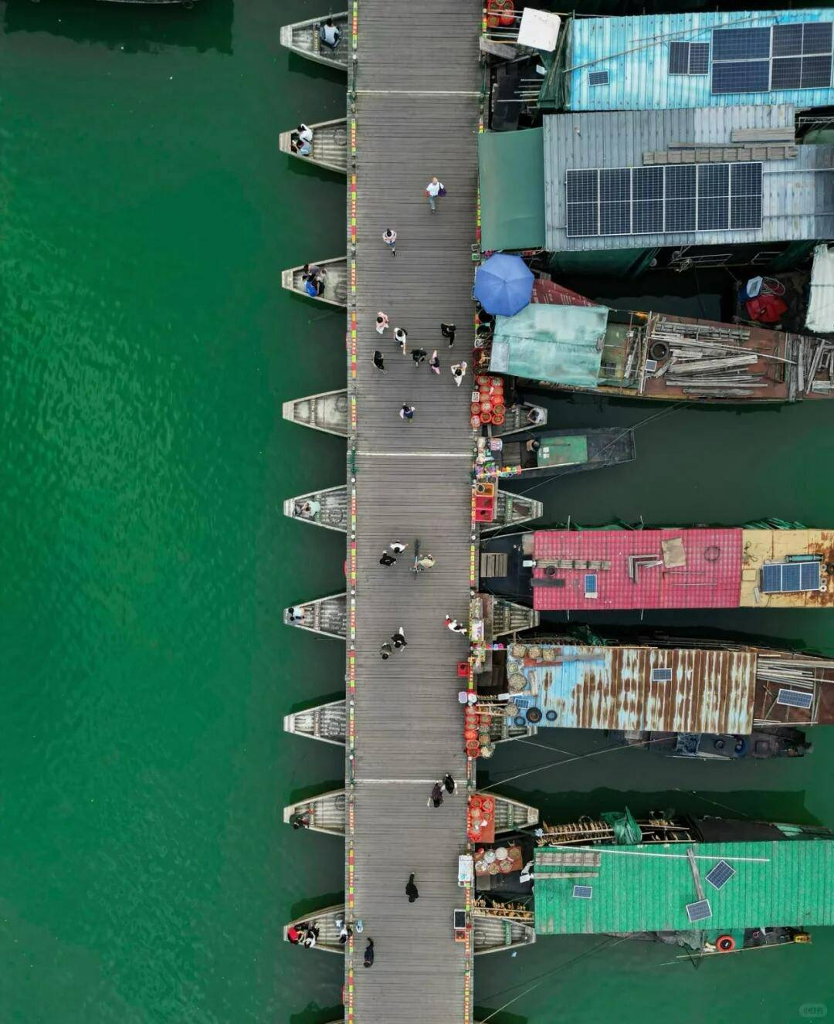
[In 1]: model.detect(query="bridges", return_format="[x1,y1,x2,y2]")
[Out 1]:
[347,0,488,1024]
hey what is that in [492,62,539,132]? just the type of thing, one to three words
boat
